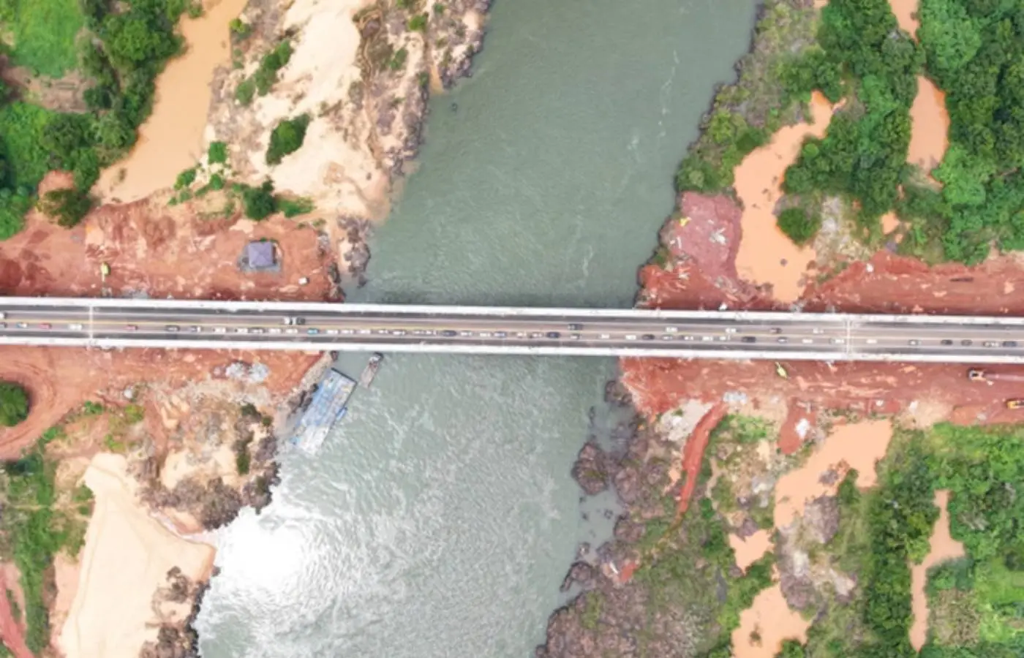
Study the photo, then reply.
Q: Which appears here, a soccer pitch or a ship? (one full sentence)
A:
I can see a ship in this picture.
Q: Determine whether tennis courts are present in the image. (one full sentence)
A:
No, I find no tennis court anywhere in the image.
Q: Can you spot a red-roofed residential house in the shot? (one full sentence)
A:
No, there isn't any red-roofed residential house down there.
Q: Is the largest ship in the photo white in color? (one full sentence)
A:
Yes, the largest ship appears white.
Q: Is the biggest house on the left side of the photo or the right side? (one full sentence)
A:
You can find the biggest house on the left side of the picture.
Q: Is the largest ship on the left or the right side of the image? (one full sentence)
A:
The largest ship sits on the left side.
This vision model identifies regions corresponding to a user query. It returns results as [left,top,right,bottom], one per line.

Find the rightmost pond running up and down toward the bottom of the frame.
[909,492,963,651]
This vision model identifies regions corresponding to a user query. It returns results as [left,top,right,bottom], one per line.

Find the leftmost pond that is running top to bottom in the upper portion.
[732,93,844,300]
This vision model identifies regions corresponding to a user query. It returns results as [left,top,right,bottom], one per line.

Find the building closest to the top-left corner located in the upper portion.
[246,242,279,273]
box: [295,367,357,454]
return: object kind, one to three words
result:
ship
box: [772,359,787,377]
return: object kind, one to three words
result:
work vehicle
